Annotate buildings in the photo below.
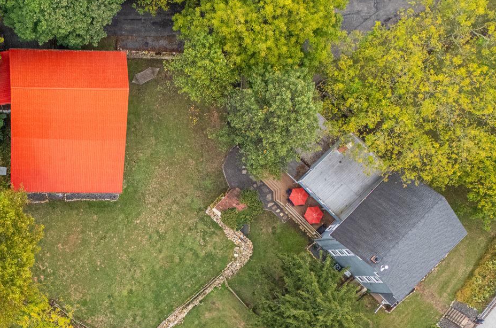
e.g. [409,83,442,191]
[10,48,129,196]
[312,163,468,304]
